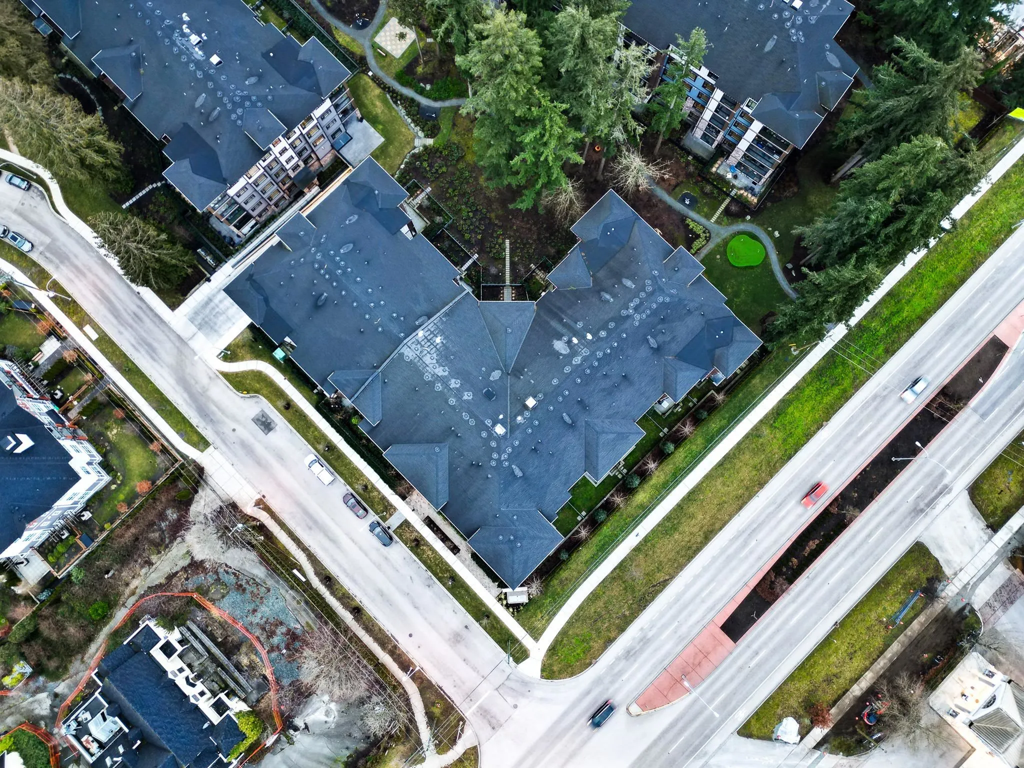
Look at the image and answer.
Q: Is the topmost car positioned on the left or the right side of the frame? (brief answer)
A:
left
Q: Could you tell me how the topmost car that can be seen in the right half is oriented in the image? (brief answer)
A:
at an angle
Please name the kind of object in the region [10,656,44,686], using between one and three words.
shed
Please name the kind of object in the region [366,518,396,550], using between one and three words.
car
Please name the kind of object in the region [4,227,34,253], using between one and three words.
car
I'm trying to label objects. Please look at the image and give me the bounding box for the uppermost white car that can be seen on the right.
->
[900,373,933,405]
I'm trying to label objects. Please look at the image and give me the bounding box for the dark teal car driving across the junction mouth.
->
[587,698,618,733]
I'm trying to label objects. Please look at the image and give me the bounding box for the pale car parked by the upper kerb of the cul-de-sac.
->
[0,167,32,191]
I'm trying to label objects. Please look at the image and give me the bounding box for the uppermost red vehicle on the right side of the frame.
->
[801,479,832,510]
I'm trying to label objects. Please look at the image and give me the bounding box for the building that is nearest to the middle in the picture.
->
[223,155,764,603]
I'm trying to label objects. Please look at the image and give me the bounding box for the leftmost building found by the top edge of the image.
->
[21,0,373,245]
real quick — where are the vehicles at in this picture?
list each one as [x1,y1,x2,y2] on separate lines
[300,451,338,487]
[801,479,832,510]
[900,373,933,405]
[339,489,371,521]
[366,518,396,550]
[587,698,618,733]
[863,700,892,729]
[4,227,34,253]
[0,167,32,191]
